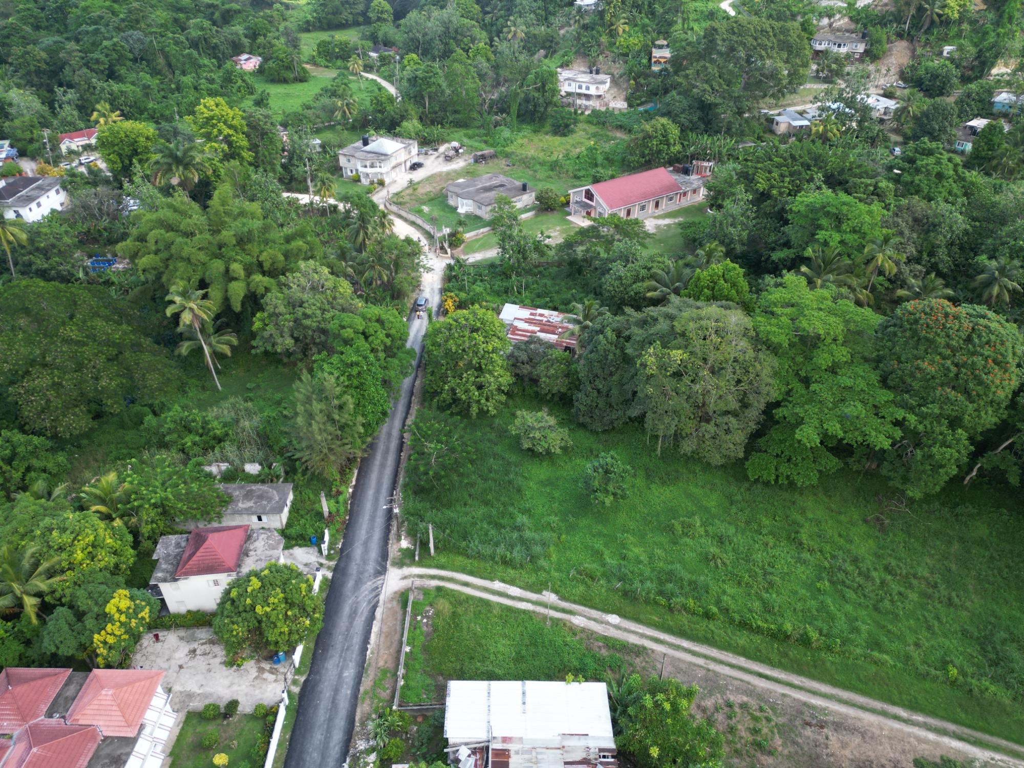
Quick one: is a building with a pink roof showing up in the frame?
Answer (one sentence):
Yes, there's a building with a pink roof down there.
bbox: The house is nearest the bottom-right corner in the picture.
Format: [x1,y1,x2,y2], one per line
[441,677,619,768]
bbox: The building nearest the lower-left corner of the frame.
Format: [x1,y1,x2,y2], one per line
[0,666,177,768]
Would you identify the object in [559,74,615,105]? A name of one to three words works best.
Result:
house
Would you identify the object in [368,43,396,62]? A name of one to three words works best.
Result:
house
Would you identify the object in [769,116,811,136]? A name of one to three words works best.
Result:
building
